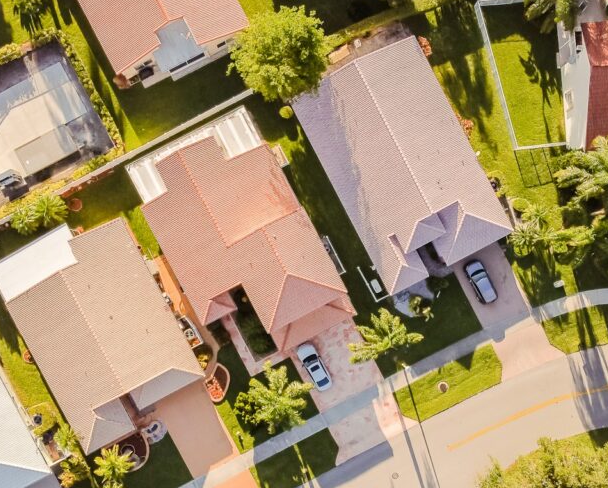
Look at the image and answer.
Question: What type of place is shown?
residential area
